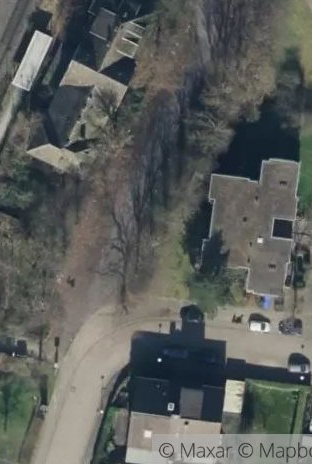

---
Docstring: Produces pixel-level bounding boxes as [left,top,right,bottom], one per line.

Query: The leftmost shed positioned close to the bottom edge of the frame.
[114,408,128,446]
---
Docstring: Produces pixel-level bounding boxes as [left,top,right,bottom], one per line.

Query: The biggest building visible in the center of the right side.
[201,159,301,297]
